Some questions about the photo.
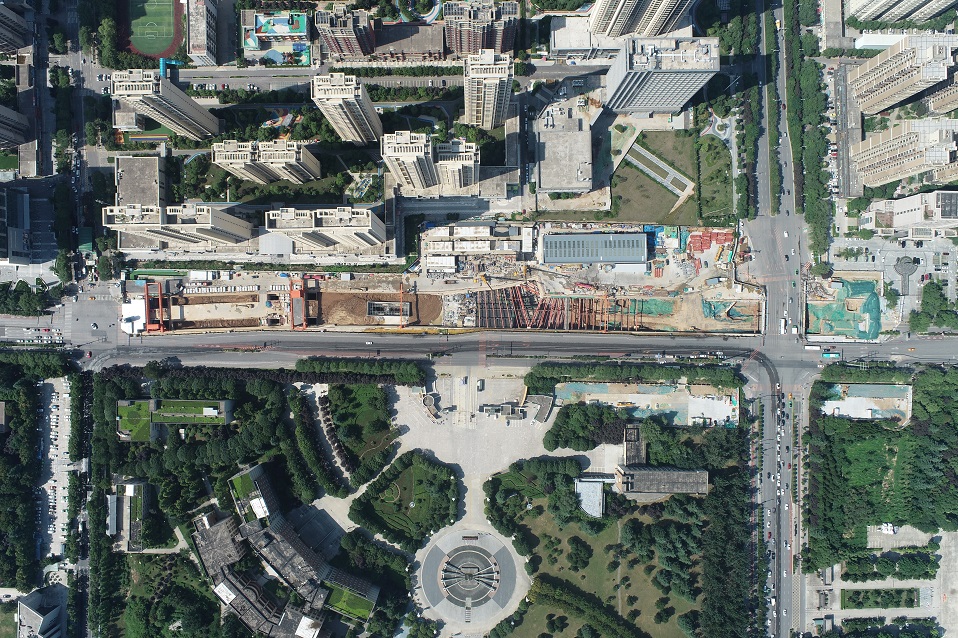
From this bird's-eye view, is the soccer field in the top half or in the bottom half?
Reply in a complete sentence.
The soccer field sits in the top half of the picture.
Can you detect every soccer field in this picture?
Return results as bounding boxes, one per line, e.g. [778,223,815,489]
[119,0,183,58]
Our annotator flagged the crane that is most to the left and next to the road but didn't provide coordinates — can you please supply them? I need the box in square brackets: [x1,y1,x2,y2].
[143,283,171,332]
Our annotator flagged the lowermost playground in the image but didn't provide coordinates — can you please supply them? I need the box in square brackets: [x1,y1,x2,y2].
[345,173,383,203]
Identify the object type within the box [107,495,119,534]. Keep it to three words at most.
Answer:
shed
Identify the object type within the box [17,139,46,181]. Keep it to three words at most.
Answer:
building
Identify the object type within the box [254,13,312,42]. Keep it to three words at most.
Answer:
building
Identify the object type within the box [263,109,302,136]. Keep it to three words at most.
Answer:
playground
